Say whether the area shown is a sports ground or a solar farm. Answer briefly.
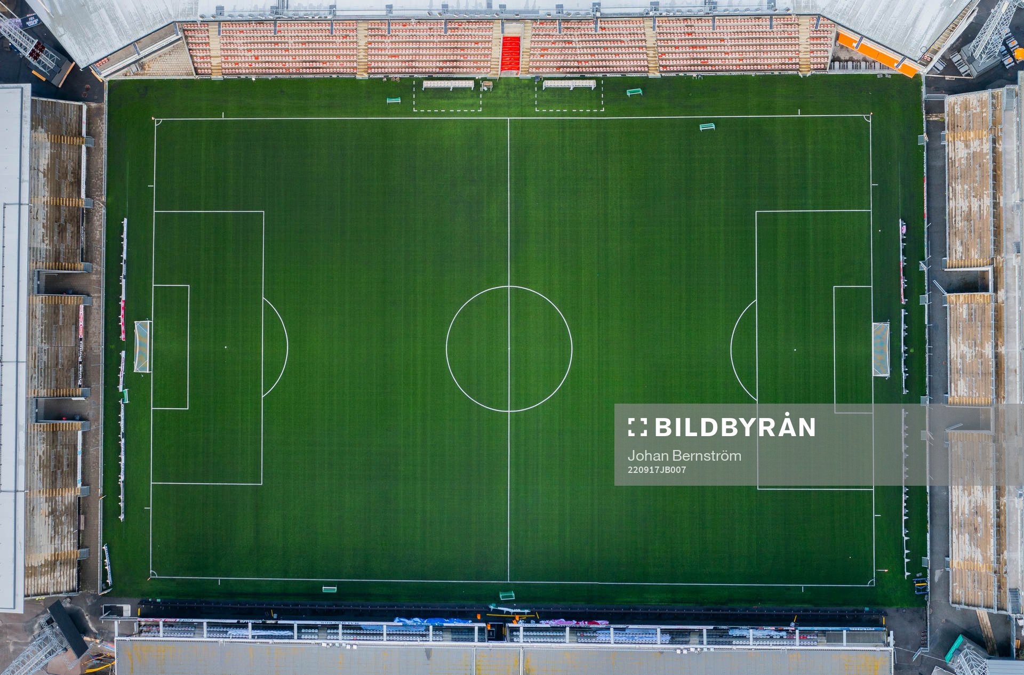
sports ground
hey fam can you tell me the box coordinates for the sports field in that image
[102,73,929,608]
